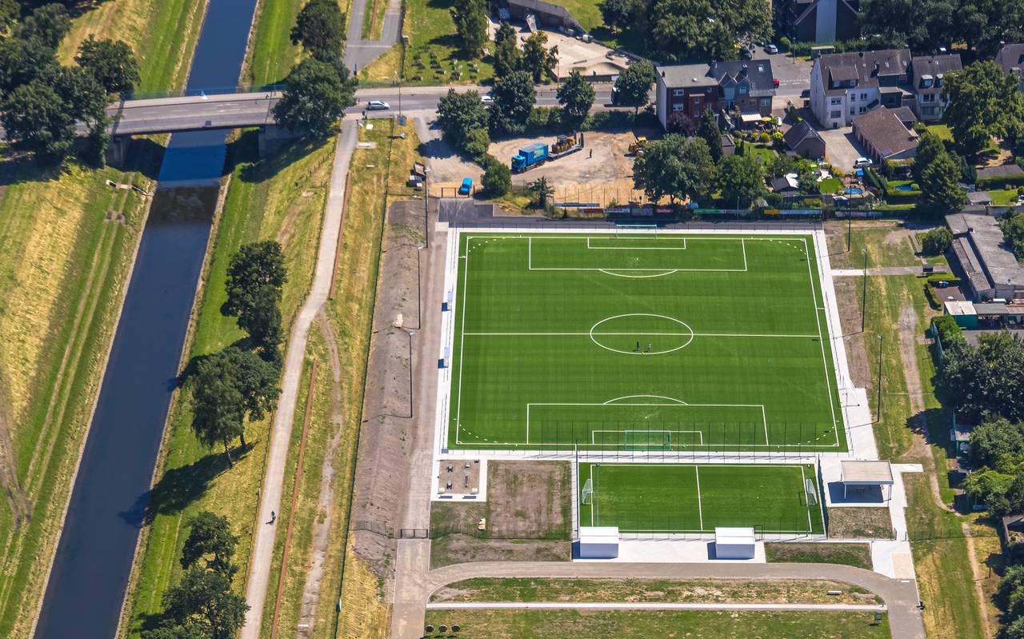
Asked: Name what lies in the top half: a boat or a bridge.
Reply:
bridge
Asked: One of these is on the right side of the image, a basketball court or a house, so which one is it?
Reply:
house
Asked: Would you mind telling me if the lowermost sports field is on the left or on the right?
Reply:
right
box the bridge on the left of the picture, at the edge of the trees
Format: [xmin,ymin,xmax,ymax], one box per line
[72,82,295,164]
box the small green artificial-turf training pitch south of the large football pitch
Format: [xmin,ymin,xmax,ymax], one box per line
[579,463,825,535]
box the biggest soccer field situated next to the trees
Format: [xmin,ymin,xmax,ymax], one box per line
[448,232,848,450]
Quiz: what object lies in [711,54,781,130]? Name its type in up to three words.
house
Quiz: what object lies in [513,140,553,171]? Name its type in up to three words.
truck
